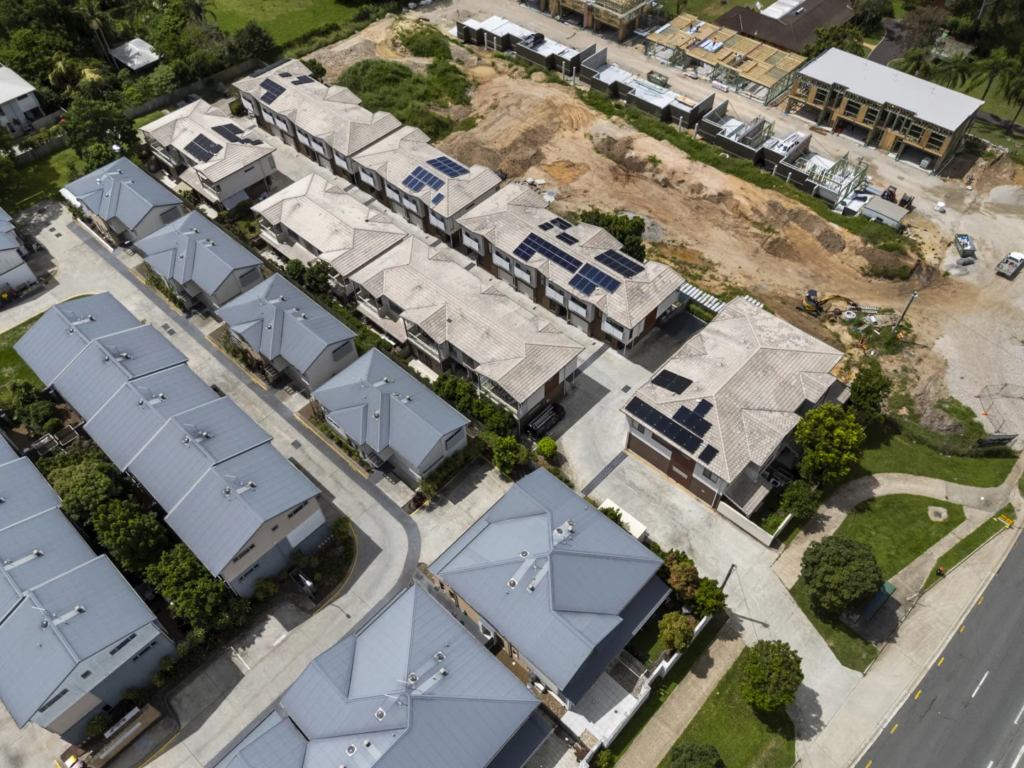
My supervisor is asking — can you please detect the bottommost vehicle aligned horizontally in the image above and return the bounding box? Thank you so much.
[800,290,862,317]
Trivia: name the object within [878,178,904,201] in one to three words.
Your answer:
work vehicle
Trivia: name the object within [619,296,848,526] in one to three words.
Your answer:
house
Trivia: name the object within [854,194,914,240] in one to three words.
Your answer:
shed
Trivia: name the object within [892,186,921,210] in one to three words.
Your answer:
work vehicle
